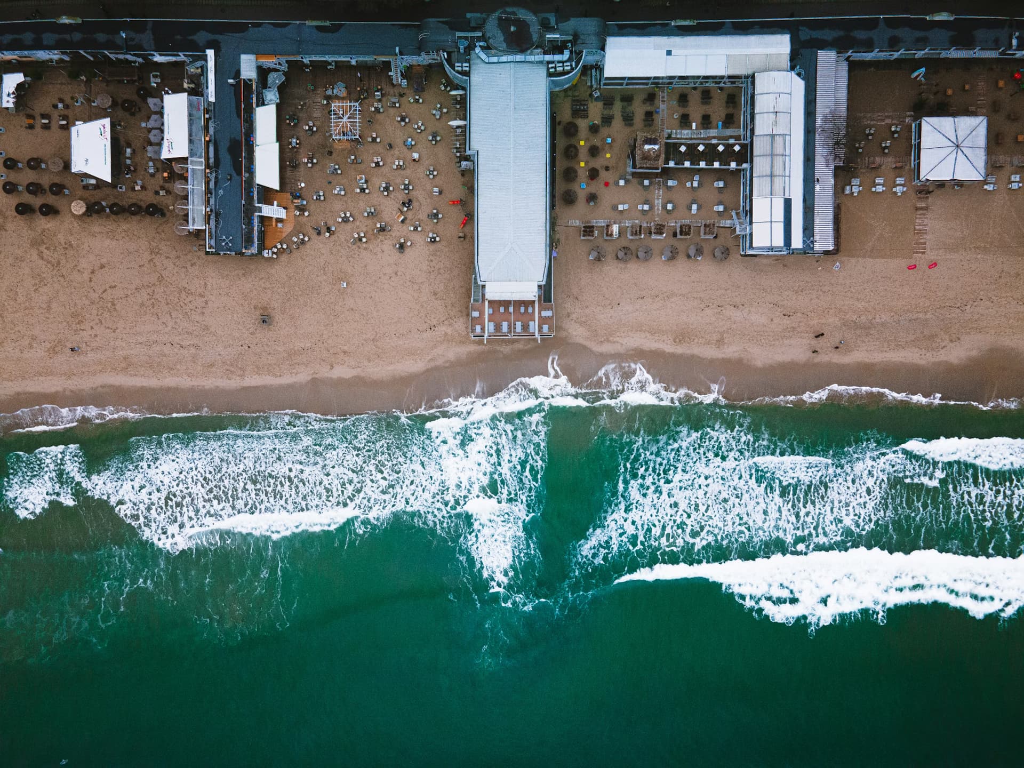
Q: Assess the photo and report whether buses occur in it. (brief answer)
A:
No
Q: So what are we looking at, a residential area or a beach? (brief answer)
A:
beach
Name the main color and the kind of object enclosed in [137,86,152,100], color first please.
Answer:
black umbrella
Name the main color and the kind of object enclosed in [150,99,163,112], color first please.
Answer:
gray umbrella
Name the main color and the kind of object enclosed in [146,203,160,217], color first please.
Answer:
black umbrella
